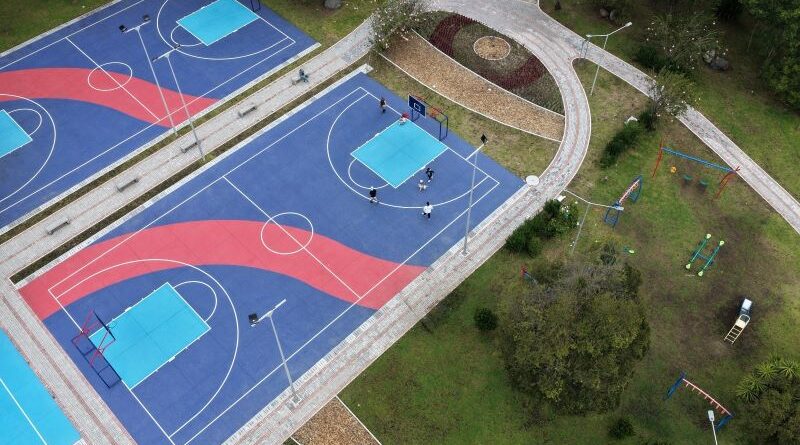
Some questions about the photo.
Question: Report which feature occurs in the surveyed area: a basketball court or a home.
basketball court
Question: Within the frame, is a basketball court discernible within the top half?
Yes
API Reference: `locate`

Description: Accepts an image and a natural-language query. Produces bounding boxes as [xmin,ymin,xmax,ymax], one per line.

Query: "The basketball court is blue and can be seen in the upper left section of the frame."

[0,0,320,232]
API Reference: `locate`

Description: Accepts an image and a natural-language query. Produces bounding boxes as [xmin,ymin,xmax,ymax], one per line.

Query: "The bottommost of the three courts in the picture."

[0,330,79,445]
